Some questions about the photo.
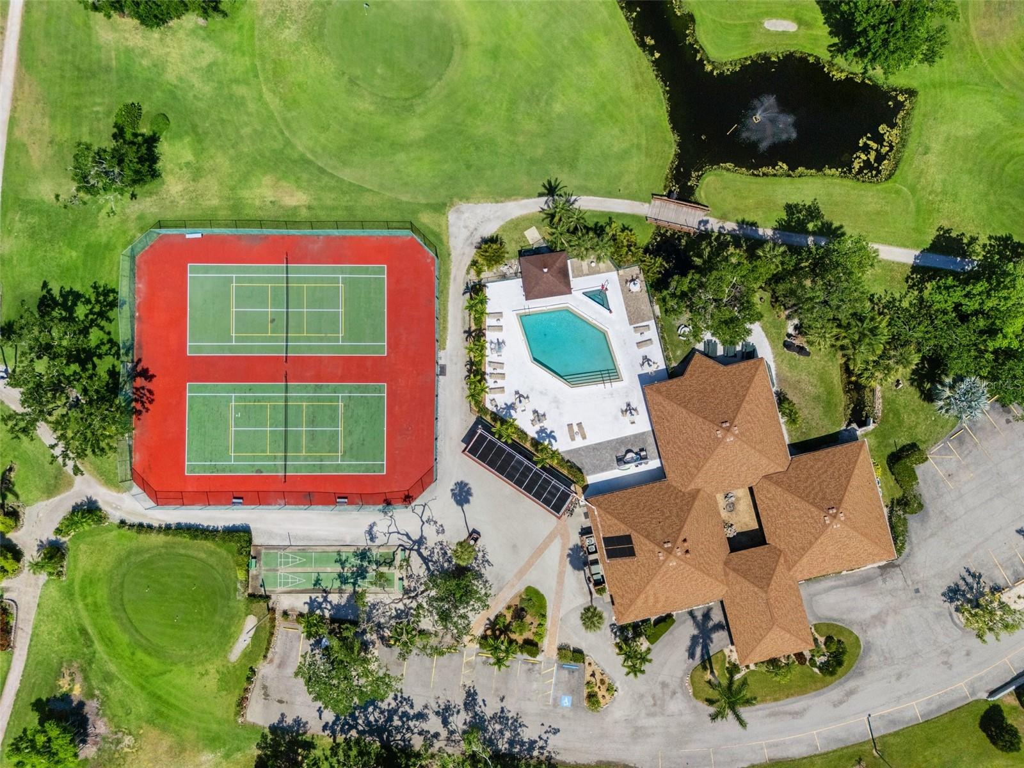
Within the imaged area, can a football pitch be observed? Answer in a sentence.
No, there appears to be no football pitch in this shot.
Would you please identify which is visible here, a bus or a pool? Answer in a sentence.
There is a pool in the scene.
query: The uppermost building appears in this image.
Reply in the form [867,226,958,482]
[519,251,573,301]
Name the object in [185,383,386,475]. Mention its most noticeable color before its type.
green tennis court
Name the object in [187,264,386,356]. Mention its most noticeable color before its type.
green tennis court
